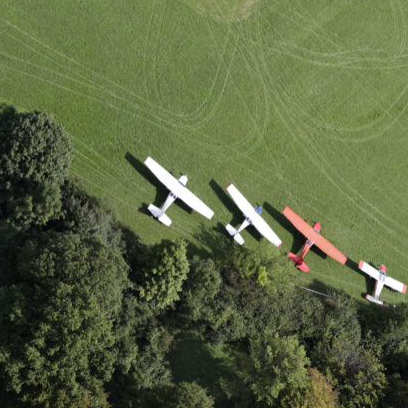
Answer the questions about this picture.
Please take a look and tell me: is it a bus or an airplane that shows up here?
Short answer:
airplane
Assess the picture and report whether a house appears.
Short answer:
No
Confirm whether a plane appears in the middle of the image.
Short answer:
Yes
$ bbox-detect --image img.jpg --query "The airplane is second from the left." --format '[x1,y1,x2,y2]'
[223,184,283,245]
